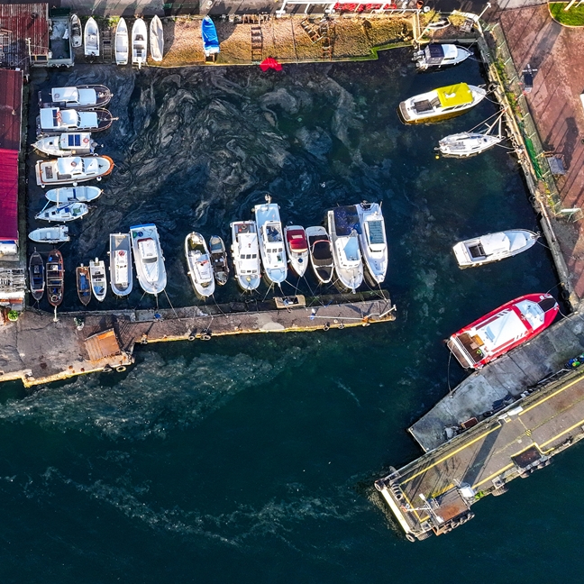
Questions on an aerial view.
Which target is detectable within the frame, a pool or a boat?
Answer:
boat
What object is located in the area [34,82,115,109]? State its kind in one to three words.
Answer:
boat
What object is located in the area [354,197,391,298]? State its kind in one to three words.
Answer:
boat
